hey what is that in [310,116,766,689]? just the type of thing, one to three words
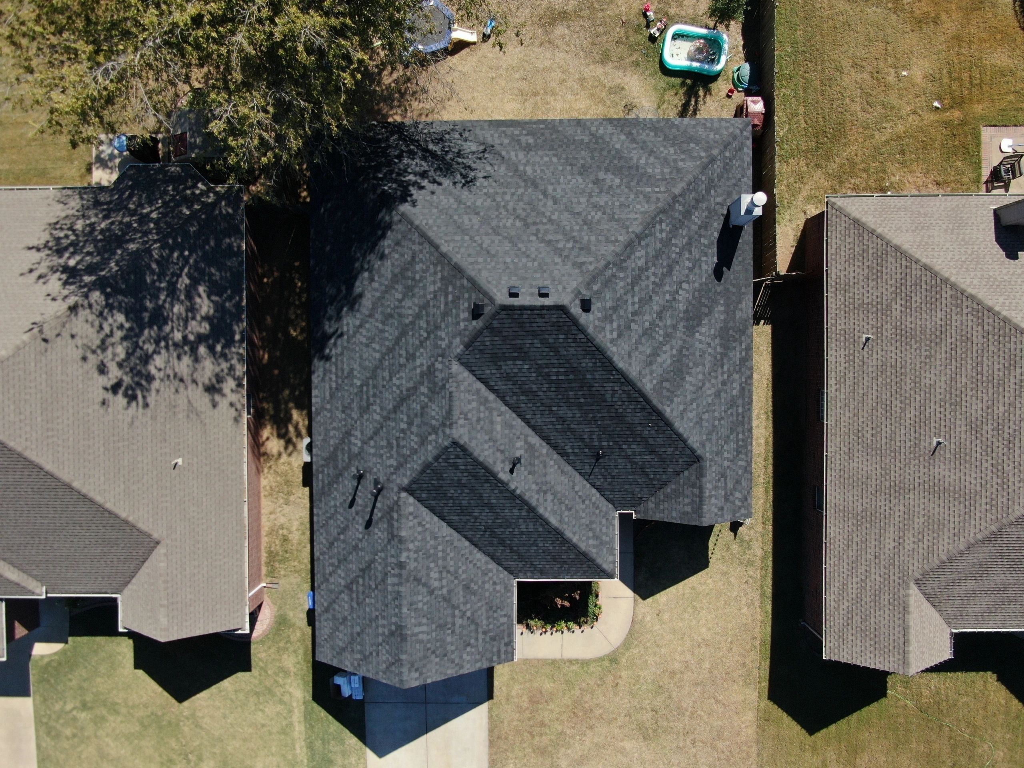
house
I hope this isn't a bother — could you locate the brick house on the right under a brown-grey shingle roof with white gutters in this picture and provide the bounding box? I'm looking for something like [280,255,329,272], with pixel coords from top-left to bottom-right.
[799,194,1024,677]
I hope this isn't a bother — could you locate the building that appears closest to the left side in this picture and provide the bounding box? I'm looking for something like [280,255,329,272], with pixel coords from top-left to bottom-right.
[0,162,268,664]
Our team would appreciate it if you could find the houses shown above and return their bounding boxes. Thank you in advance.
[799,194,1024,677]
[0,162,268,664]
[310,116,766,689]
